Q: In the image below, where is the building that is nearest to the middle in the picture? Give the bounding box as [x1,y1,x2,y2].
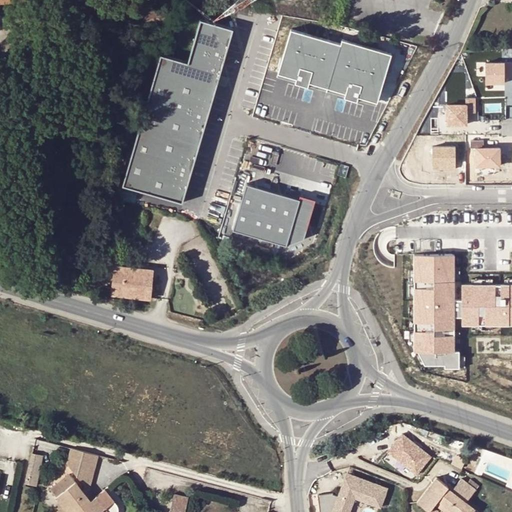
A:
[234,184,318,246]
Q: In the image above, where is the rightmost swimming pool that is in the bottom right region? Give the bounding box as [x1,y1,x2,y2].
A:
[475,450,512,488]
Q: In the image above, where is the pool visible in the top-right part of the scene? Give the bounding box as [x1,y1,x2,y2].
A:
[482,102,502,114]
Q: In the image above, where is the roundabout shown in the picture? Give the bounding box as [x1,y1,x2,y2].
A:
[221,283,392,452]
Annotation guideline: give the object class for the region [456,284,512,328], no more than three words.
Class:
building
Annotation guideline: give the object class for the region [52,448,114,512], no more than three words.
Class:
house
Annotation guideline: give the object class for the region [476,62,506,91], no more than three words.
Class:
house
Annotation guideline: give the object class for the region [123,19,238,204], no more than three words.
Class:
warehouse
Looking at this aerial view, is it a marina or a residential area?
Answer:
residential area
